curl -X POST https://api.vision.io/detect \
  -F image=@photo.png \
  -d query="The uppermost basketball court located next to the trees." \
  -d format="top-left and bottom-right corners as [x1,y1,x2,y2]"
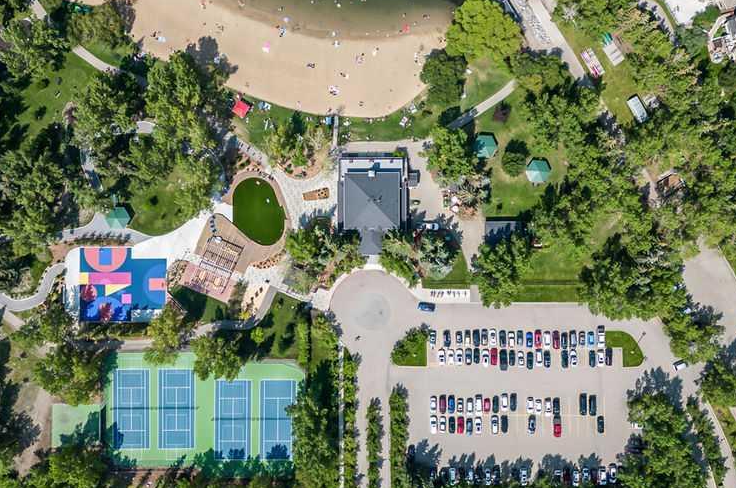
[66,247,168,323]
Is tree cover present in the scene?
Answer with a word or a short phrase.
Yes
